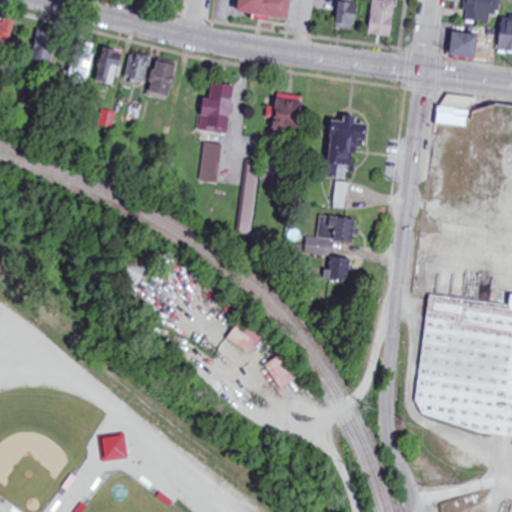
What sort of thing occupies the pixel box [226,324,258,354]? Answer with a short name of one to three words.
building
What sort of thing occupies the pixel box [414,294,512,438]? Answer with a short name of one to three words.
building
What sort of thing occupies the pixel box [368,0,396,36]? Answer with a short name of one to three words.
house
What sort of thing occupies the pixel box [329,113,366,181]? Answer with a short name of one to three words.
house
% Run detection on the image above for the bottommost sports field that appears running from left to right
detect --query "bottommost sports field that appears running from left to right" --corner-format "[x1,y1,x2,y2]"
[84,471,174,512]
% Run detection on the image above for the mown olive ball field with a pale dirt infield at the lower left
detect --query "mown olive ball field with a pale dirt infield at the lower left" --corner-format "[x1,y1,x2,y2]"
[0,387,104,512]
